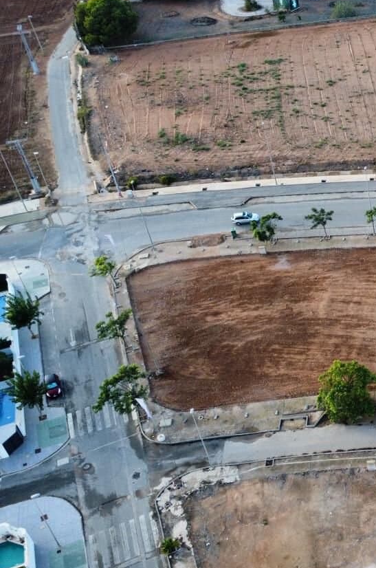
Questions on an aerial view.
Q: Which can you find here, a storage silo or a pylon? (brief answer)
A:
pylon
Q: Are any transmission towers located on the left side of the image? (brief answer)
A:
Yes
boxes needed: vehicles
[227,212,261,225]
[37,373,67,403]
